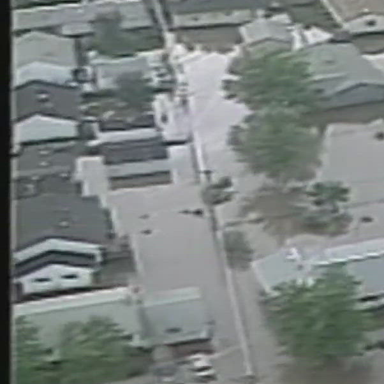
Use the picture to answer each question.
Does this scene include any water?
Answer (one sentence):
Yes, water can be seen from above here.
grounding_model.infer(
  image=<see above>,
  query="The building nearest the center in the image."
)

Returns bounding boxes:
[98,127,167,178]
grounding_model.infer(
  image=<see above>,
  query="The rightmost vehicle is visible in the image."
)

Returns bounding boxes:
[185,353,220,384]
